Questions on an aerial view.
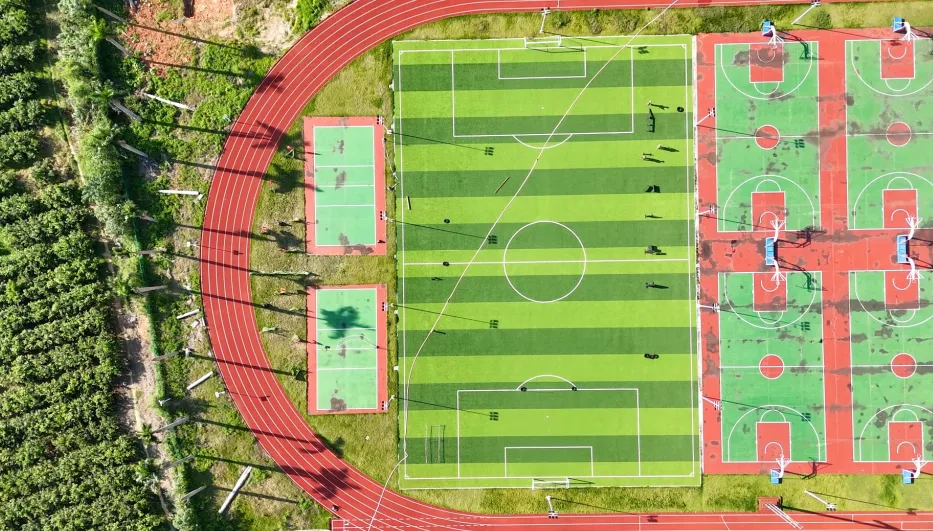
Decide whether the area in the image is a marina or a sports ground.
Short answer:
sports ground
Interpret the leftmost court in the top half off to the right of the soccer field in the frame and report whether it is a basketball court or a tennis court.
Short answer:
basketball court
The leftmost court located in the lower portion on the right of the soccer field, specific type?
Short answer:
basketball court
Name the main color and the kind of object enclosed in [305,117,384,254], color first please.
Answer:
green sports court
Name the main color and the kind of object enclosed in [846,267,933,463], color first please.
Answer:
green basketball court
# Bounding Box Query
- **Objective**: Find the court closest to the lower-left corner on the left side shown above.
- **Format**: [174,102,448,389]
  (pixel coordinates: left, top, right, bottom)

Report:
[308,286,386,414]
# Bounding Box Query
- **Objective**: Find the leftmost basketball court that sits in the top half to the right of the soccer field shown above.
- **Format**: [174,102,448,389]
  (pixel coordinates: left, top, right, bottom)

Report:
[714,40,824,233]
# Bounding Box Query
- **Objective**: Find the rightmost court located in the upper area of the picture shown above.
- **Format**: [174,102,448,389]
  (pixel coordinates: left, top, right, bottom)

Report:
[842,36,933,230]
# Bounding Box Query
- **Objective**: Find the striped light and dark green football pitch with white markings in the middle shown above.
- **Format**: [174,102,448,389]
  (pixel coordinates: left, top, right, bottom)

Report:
[394,35,701,488]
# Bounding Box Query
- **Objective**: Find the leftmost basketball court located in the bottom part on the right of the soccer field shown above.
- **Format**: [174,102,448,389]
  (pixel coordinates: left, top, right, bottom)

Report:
[718,269,828,464]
